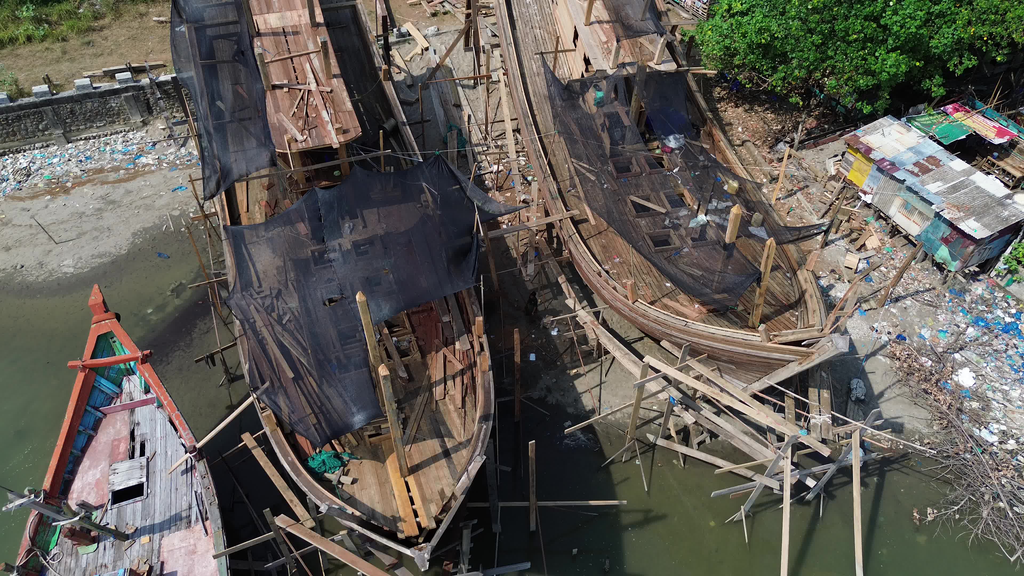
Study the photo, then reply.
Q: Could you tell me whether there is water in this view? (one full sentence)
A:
Yes, some water is visible.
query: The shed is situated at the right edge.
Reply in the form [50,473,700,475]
[835,111,1024,274]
